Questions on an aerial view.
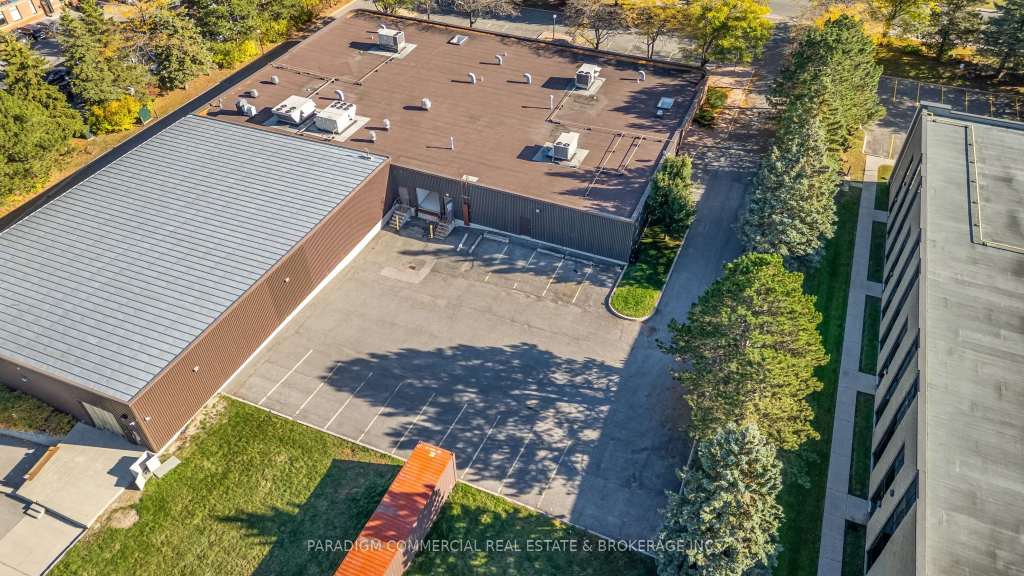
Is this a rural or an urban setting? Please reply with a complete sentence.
The land in this view is best described as urban.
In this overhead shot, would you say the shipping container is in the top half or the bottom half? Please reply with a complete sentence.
The bottom half of the photo is where the shipping container is.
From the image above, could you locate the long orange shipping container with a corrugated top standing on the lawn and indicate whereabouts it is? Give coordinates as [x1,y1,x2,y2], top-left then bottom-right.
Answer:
[332,440,457,576]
